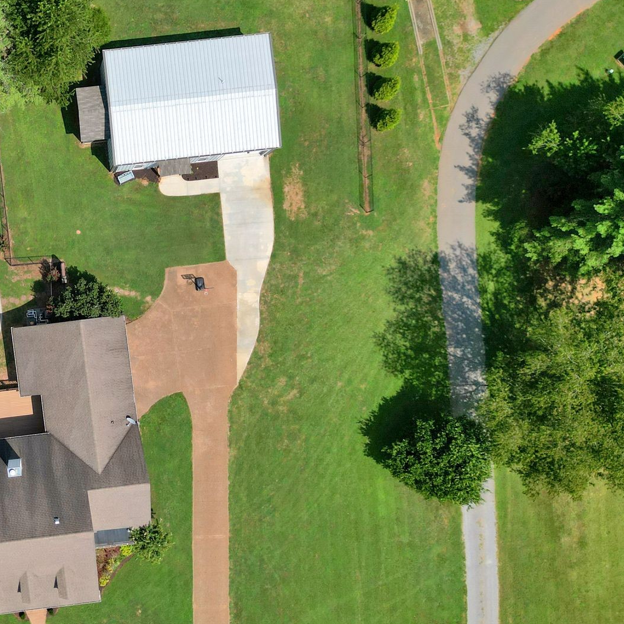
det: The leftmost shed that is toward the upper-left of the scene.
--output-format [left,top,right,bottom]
[77,86,106,149]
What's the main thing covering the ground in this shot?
grass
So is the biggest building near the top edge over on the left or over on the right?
left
